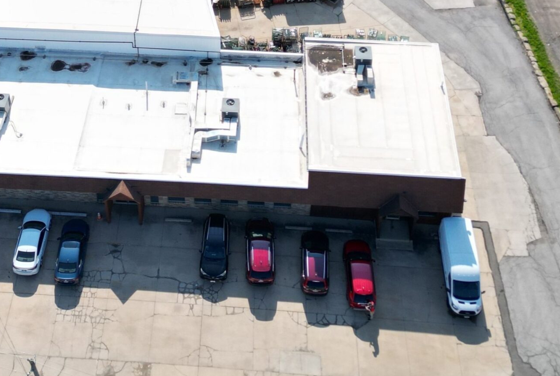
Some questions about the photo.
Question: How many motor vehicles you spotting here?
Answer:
7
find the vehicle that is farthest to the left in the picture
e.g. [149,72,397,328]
[11,209,51,278]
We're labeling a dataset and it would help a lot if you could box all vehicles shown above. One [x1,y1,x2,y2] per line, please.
[196,214,232,285]
[341,240,377,313]
[242,218,278,288]
[434,217,486,317]
[11,209,51,278]
[52,217,89,289]
[297,229,333,300]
